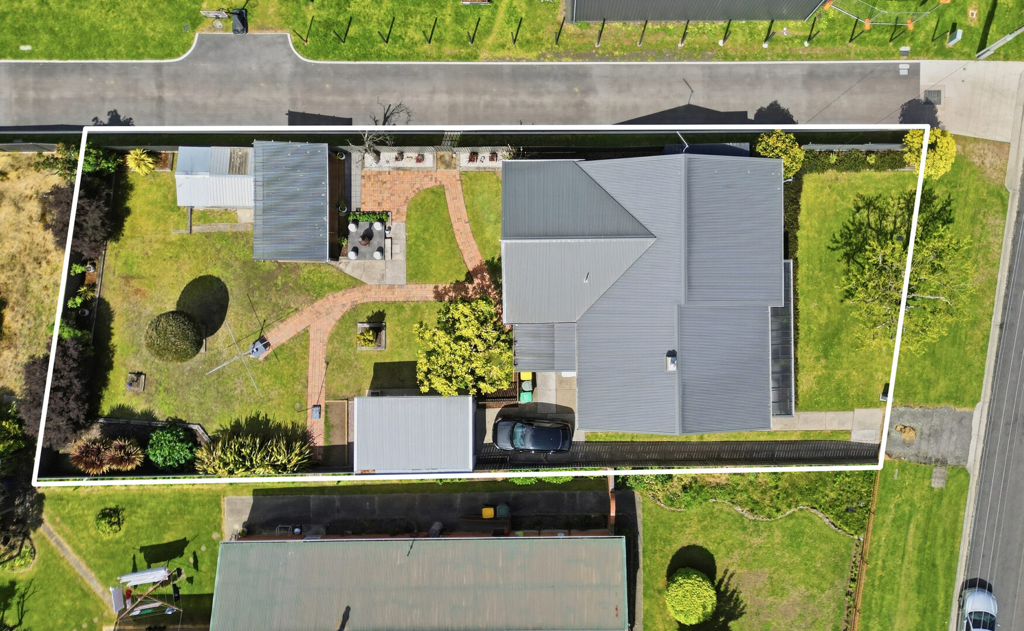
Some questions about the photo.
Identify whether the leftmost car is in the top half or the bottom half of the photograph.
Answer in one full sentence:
The bottom half of the photo is where the leftmost car is.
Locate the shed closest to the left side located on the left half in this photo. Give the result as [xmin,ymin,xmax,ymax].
[170,146,254,208]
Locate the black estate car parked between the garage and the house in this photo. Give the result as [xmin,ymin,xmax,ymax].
[493,414,573,456]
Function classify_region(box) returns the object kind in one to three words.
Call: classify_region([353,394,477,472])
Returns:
building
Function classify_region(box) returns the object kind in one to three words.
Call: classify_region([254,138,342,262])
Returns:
shed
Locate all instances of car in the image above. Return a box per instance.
[961,585,1006,631]
[493,414,573,456]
